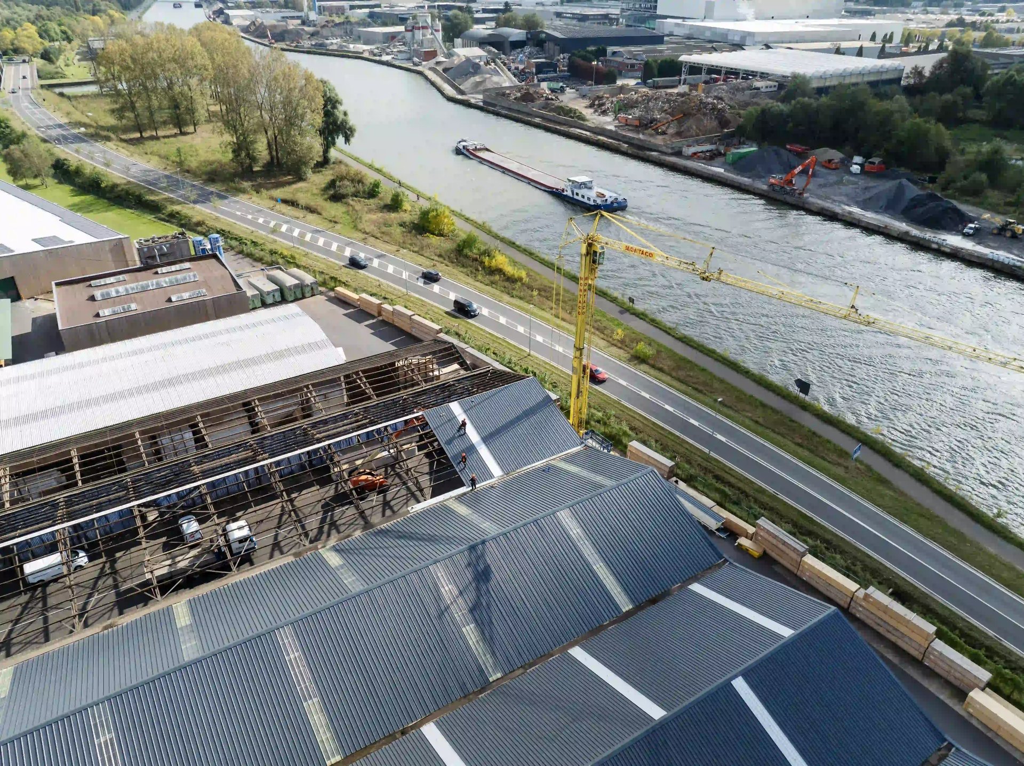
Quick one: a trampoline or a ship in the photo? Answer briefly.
ship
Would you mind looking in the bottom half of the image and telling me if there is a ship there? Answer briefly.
No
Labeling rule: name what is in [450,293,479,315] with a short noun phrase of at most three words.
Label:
vehicle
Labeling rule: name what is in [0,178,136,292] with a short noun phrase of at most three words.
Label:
building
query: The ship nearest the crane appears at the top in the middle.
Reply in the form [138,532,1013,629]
[463,139,629,208]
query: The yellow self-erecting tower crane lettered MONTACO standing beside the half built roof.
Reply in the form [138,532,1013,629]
[557,211,1024,446]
